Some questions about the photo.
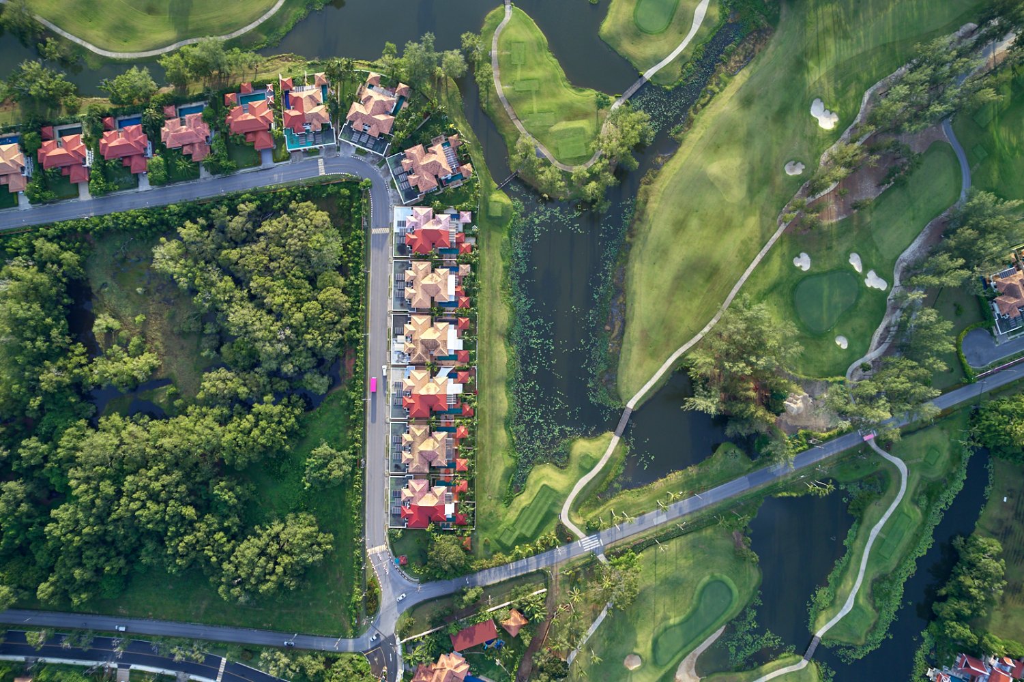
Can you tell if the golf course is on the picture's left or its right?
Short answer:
right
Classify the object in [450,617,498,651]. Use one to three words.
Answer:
building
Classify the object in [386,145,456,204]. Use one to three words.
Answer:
house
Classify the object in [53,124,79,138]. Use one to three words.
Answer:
swimming pool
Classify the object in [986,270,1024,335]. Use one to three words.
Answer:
house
